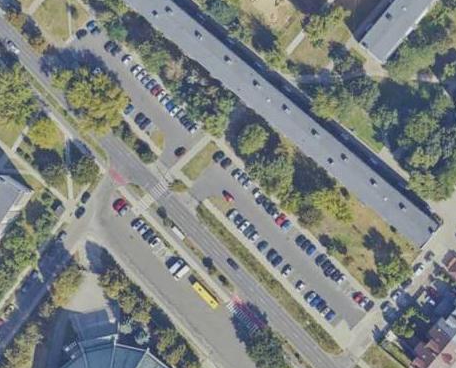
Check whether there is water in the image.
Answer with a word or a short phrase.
No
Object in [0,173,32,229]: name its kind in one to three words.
building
